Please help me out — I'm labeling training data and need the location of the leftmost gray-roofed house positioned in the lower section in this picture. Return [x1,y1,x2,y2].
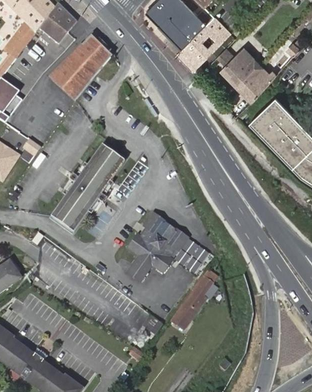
[0,253,24,292]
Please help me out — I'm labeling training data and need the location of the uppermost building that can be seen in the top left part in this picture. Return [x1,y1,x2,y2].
[40,2,77,44]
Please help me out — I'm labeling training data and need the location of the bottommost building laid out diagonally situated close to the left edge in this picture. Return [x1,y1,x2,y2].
[0,324,84,392]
